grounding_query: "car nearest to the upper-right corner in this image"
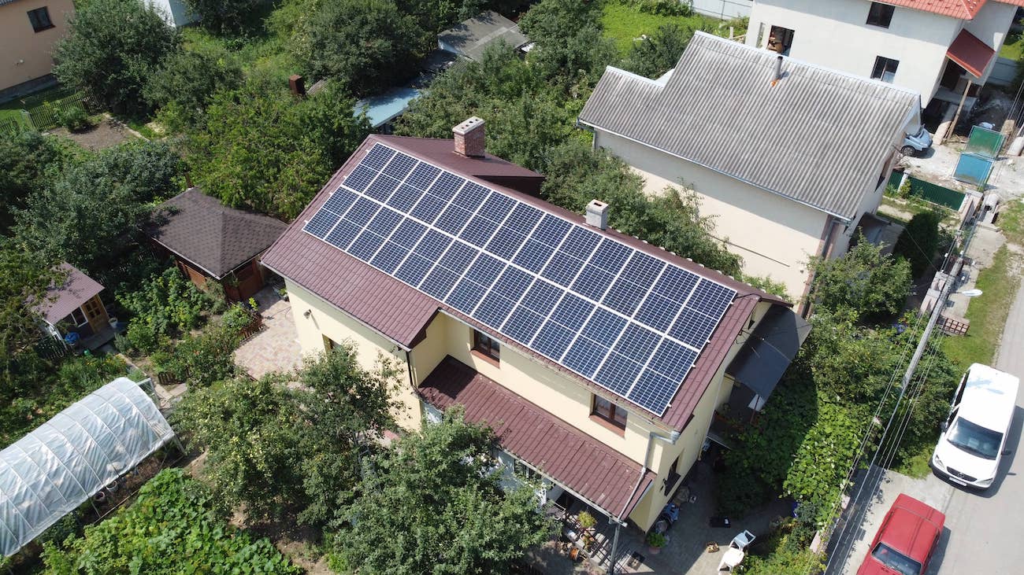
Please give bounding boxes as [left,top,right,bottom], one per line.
[902,131,934,157]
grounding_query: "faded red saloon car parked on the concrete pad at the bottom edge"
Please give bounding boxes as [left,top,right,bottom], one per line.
[856,491,946,575]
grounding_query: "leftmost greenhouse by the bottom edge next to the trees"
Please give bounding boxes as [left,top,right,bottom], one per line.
[0,371,183,575]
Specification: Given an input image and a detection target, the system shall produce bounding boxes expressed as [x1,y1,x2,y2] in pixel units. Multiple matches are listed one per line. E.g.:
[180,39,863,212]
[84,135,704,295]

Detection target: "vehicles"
[926,359,1021,486]
[856,491,946,575]
[902,131,934,157]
